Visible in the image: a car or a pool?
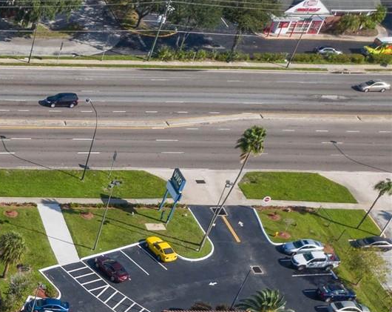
car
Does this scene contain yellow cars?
Yes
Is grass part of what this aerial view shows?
Yes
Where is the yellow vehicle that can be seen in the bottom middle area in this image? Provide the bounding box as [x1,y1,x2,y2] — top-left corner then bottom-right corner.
[142,233,184,258]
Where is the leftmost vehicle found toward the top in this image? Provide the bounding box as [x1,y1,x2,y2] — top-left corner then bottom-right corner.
[43,91,79,107]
